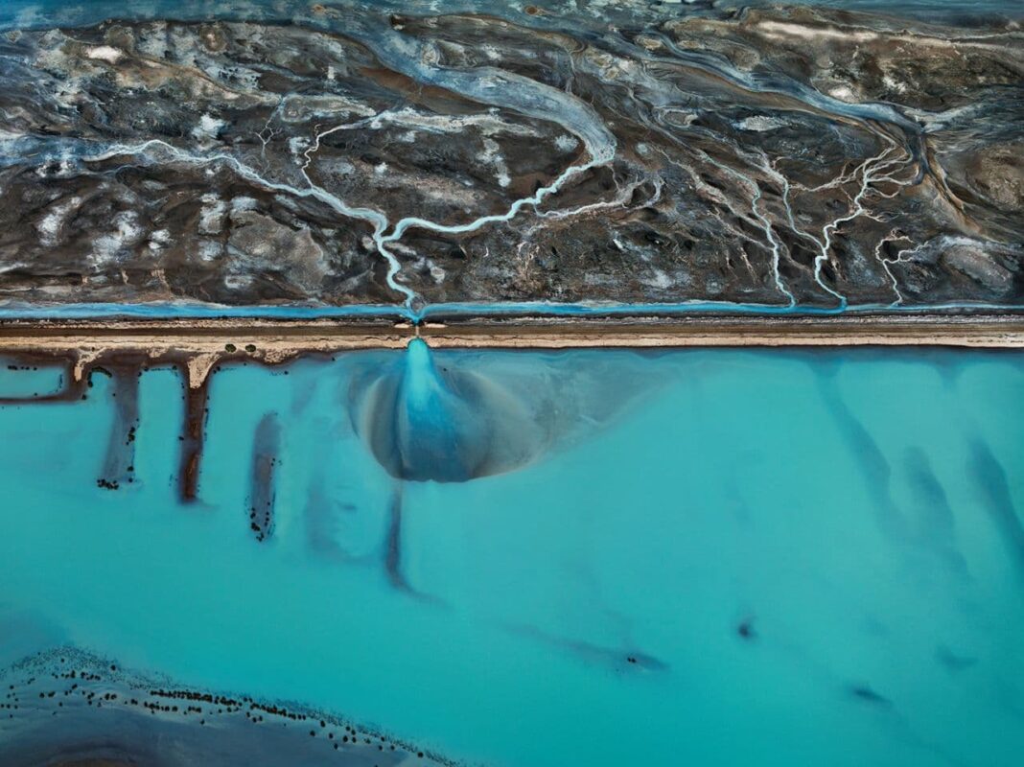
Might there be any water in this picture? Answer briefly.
Yes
